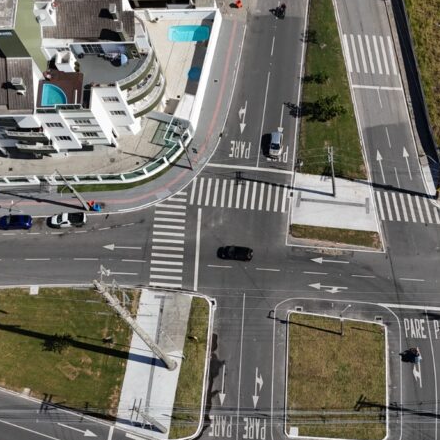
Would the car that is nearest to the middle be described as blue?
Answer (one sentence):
No, the color of the car that is nearest to the middle is black.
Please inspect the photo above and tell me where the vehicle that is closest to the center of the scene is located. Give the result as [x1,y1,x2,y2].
[217,242,254,262]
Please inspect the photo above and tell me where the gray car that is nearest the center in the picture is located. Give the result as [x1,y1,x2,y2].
[266,128,283,158]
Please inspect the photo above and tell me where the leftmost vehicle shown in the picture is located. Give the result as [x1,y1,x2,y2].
[0,212,31,230]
